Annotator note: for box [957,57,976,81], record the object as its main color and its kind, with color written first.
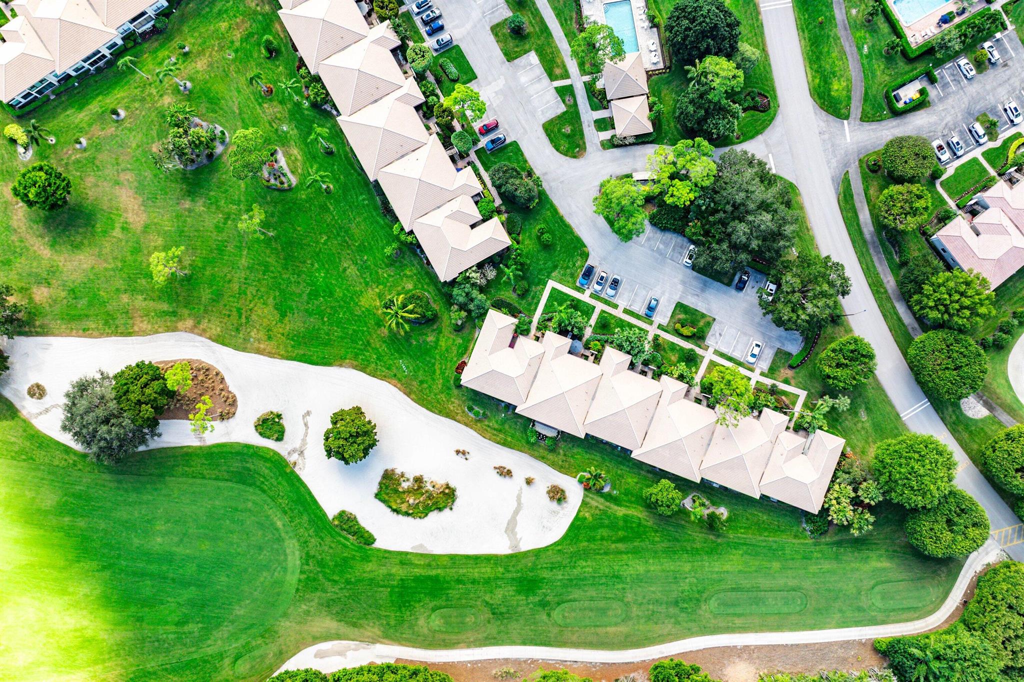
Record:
white car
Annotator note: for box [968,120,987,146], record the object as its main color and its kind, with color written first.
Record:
white car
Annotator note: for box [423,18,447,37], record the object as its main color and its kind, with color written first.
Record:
blue car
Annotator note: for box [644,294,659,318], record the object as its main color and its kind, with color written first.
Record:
blue car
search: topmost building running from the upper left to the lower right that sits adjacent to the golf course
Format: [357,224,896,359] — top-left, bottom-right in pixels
[277,0,510,281]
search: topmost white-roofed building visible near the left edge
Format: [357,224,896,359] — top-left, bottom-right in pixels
[0,0,202,106]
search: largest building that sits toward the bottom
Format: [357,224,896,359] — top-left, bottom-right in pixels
[460,308,846,514]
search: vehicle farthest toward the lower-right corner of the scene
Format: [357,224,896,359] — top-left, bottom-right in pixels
[745,339,763,365]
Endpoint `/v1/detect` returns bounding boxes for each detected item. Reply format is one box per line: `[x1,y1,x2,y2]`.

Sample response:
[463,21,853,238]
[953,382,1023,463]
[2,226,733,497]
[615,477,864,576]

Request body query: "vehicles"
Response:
[957,57,976,81]
[745,339,763,365]
[605,273,622,299]
[423,18,447,37]
[578,262,595,288]
[981,40,1000,65]
[409,0,435,16]
[429,32,455,52]
[644,294,659,318]
[734,266,752,293]
[476,117,501,136]
[681,243,697,268]
[593,269,609,293]
[968,120,987,146]
[946,134,965,158]
[483,133,509,152]
[417,6,443,25]
[1003,100,1023,126]
[931,138,950,164]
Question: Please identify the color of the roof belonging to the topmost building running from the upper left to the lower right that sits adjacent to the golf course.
white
